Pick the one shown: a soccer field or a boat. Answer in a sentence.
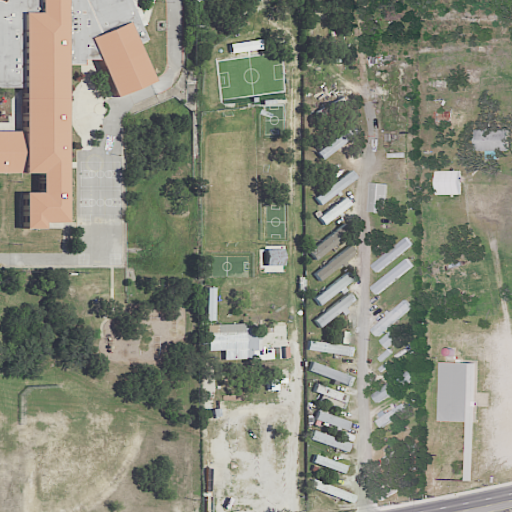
Visible in the photo is a soccer field.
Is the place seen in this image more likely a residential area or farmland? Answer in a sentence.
What you see here is a residential area.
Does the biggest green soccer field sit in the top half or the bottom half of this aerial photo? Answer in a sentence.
The biggest green soccer field is in the top half of the image.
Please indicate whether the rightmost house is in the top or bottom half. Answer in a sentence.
The top half of the photo is where the rightmost house is.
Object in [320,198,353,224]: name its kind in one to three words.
house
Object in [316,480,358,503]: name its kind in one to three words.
house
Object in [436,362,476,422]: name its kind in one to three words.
building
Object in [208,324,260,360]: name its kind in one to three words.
building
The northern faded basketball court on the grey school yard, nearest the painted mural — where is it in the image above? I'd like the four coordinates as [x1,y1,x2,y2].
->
[80,162,121,188]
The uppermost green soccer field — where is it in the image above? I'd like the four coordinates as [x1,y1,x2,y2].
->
[216,52,287,104]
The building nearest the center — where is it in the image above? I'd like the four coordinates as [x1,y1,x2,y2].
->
[260,246,288,272]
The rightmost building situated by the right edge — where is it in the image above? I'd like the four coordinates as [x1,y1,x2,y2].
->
[472,130,508,152]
